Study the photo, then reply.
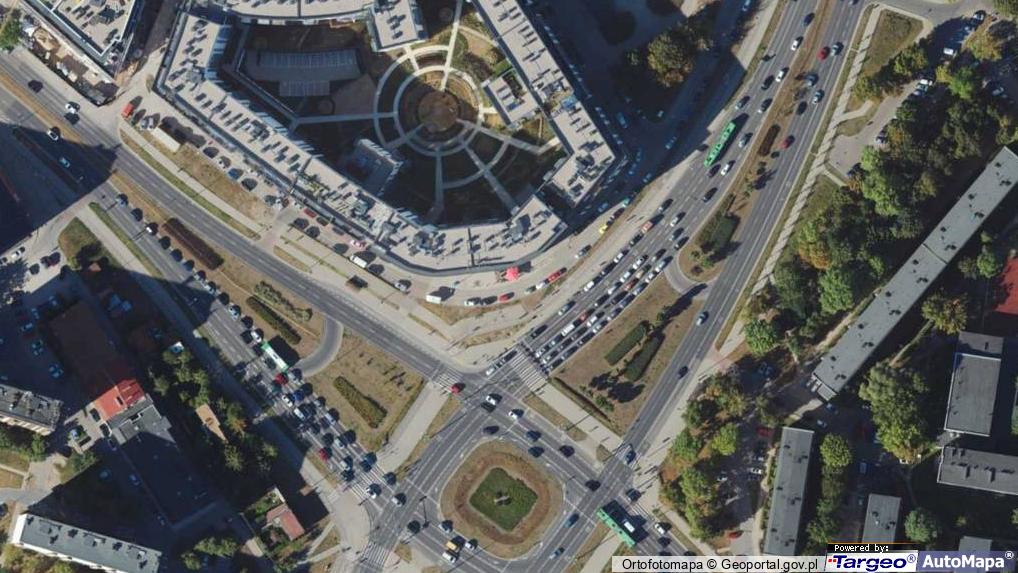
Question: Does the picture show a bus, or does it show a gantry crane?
bus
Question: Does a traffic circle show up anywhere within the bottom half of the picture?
Yes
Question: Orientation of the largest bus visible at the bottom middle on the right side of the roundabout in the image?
on a diagonal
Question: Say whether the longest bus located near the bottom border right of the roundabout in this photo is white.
No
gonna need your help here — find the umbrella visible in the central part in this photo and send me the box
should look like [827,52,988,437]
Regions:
[505,266,520,281]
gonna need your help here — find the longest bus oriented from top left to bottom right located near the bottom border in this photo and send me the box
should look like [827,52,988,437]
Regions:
[597,506,636,545]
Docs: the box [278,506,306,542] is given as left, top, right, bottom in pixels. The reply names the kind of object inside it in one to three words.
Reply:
house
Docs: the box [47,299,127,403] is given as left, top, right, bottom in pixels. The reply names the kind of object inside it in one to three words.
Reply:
building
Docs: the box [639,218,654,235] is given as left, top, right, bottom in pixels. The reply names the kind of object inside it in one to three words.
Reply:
vehicle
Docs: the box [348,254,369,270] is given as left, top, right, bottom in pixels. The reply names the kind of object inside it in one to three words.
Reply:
vehicle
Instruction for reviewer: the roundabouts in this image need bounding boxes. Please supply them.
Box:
[440,438,565,558]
